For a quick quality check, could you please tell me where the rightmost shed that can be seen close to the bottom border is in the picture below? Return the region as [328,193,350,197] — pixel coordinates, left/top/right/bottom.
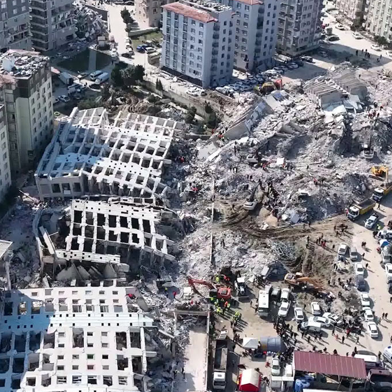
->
[293,350,367,392]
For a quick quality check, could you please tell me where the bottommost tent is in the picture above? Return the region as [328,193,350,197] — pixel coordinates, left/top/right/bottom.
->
[238,366,260,392]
